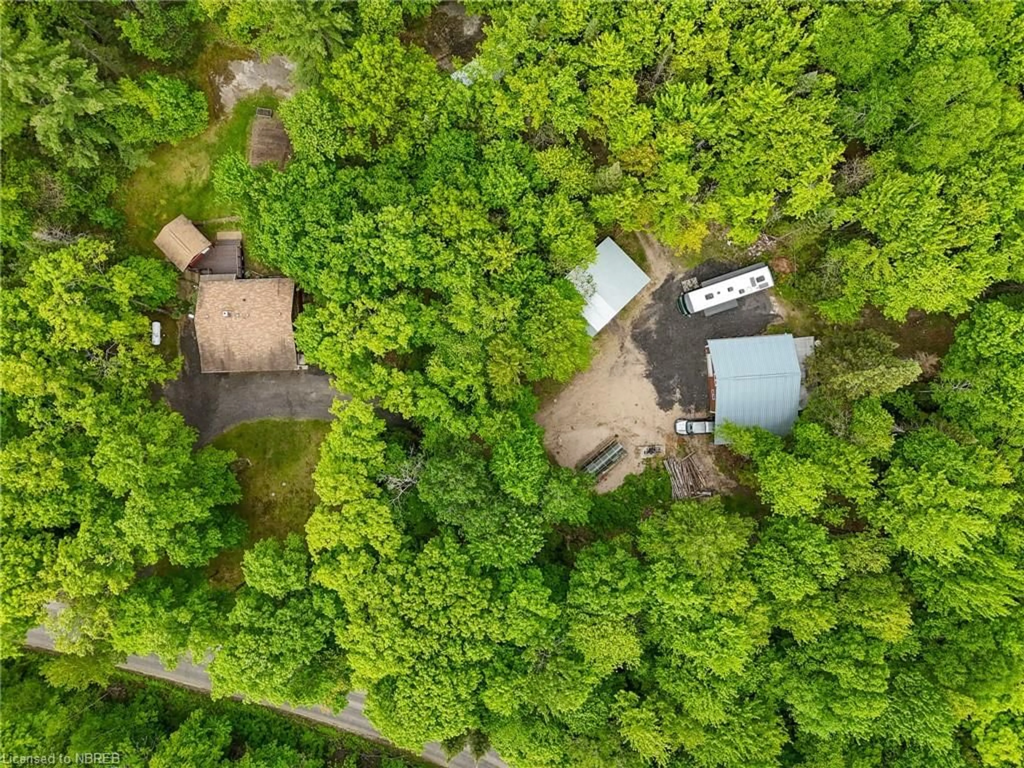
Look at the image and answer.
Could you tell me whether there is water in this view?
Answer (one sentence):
No, the picture contains no water.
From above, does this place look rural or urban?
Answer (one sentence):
This place is rural.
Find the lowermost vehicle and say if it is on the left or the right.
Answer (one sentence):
You can find the lowermost vehicle on the right side of the picture.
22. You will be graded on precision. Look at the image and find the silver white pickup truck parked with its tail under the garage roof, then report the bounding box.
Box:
[673,416,713,436]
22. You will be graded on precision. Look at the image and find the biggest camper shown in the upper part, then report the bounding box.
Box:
[670,261,775,319]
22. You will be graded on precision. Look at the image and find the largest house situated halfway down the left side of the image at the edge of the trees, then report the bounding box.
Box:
[188,273,300,373]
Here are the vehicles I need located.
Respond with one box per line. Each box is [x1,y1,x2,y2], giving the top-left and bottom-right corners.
[670,261,775,319]
[673,416,713,436]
